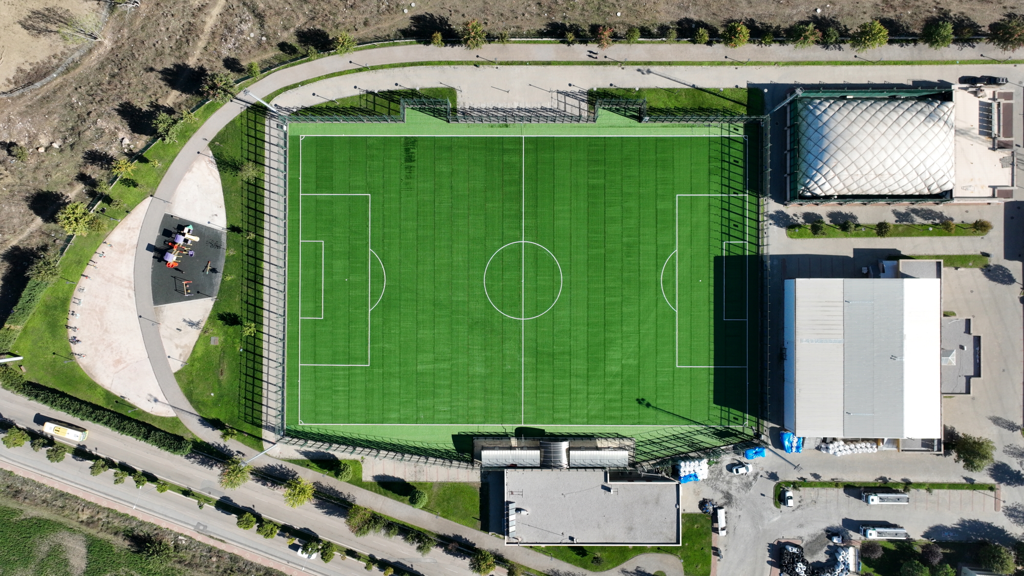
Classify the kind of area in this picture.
sports ground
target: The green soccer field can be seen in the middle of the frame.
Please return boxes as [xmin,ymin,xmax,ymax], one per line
[286,121,759,463]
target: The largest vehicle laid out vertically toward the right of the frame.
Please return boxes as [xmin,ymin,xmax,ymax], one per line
[715,507,728,535]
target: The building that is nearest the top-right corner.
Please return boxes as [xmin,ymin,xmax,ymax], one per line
[939,84,1017,206]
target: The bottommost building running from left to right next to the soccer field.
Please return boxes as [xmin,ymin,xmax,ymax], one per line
[504,467,682,546]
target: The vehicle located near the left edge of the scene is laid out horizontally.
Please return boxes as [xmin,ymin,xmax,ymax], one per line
[43,418,96,442]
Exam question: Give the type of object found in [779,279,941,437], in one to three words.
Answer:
building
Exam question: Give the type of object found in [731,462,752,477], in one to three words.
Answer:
car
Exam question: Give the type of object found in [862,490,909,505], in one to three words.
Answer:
vehicle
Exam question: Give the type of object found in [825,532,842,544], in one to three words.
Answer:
vehicle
